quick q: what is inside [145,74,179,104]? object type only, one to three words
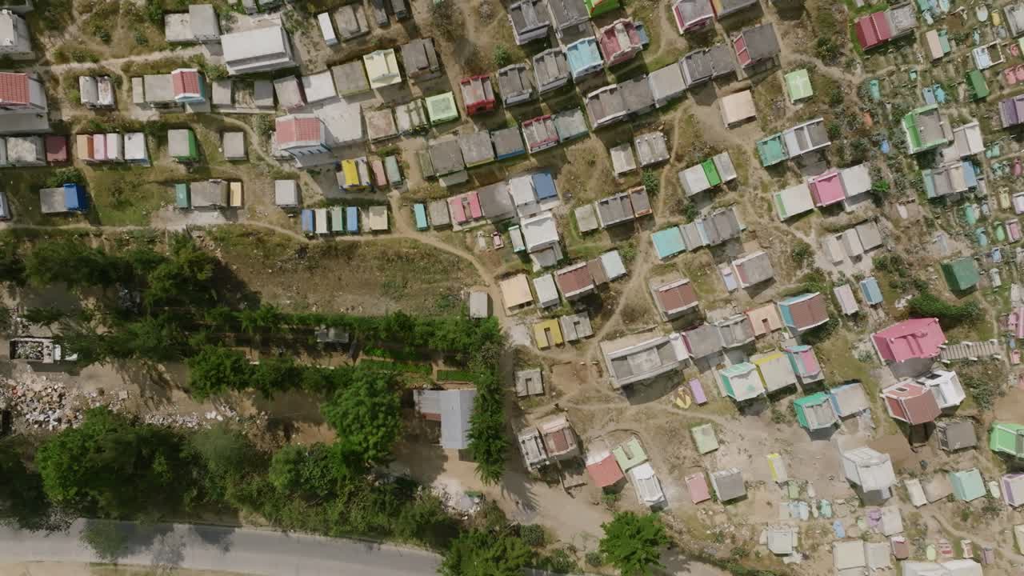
building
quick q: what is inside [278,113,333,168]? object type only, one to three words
building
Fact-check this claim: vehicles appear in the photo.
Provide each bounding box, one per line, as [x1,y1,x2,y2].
[9,339,88,364]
